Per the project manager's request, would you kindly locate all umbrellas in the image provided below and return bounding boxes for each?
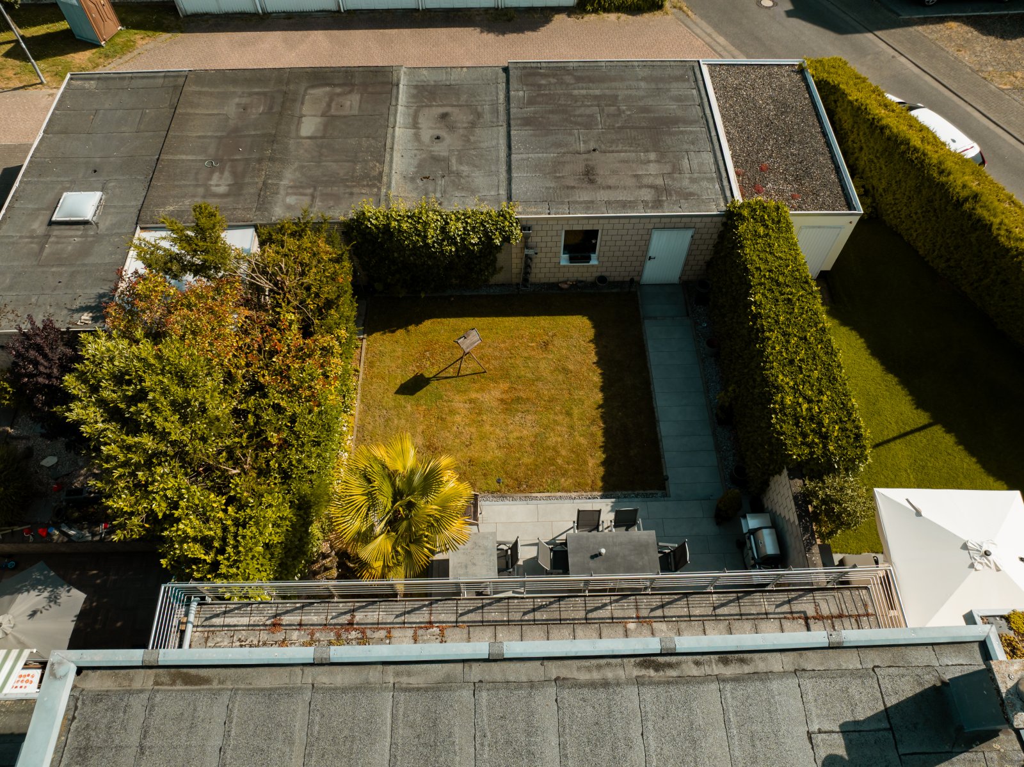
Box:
[0,555,103,661]
[866,485,1024,629]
